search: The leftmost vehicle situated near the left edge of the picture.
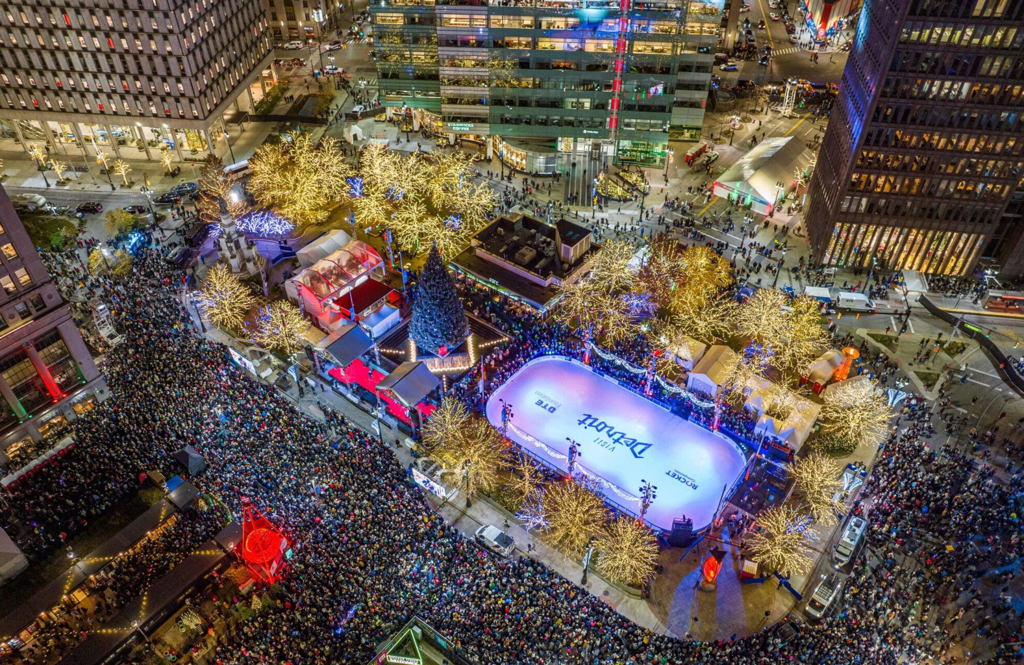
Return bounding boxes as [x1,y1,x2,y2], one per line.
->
[4,191,42,208]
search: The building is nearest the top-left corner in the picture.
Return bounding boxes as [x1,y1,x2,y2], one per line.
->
[0,0,284,171]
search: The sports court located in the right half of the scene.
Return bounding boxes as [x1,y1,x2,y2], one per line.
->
[484,350,750,531]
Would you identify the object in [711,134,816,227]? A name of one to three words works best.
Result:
tent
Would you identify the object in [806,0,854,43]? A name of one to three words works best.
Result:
building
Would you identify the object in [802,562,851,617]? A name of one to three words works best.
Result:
van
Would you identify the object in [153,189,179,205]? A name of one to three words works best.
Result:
car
